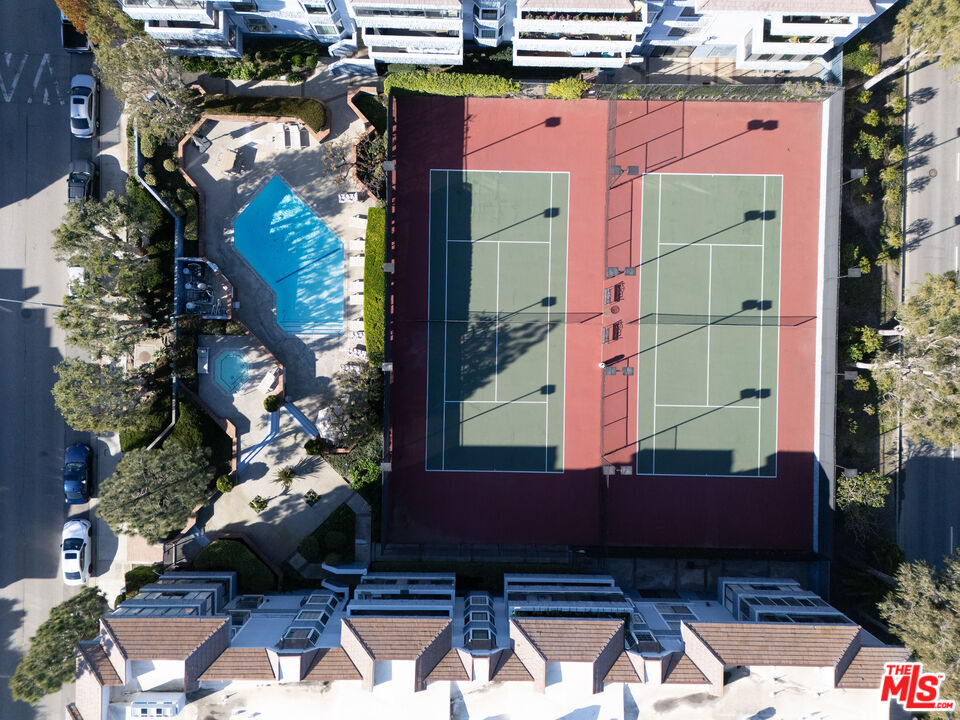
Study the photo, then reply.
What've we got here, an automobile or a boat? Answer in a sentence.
The image shows an automobile.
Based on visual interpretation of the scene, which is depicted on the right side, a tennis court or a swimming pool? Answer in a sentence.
What appears on the right side is a tennis court.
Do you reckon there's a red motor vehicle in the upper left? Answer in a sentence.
No, no red motor vehicle is visible in the upper left.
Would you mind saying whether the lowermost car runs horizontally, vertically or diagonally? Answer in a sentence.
I'd say the lowermost car is aligned vertically in the picture.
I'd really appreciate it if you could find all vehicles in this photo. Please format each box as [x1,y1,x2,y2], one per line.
[59,444,93,502]
[62,156,98,218]
[58,518,92,586]
[57,8,90,52]
[66,75,98,140]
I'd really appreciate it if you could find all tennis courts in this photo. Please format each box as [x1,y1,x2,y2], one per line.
[600,98,823,553]
[388,97,608,550]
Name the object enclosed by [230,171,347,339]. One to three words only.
swimming pool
